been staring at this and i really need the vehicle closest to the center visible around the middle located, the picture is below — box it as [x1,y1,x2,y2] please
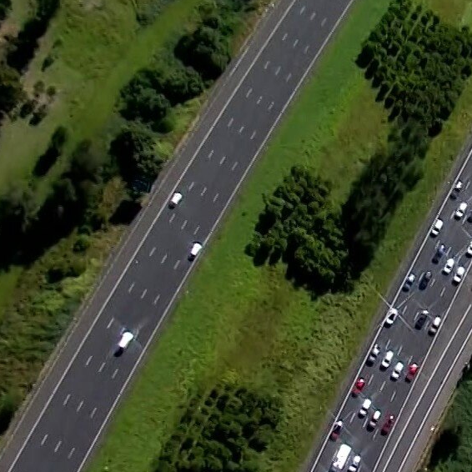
[189,244,201,257]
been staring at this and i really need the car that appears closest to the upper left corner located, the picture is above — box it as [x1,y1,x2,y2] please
[169,192,182,208]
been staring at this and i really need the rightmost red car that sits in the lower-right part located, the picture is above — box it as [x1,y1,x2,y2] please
[405,364,418,380]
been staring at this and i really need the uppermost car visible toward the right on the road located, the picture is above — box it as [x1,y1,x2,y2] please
[450,182,463,198]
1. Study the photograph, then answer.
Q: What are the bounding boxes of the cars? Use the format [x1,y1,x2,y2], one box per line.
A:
[348,455,361,472]
[385,309,398,327]
[442,258,455,275]
[367,347,380,365]
[329,419,344,441]
[169,192,182,208]
[380,351,394,369]
[405,364,418,380]
[358,399,371,417]
[380,416,395,435]
[431,219,443,236]
[415,312,428,330]
[466,240,472,256]
[418,272,432,290]
[402,274,415,292]
[189,244,201,257]
[450,182,463,198]
[351,378,365,396]
[432,246,445,262]
[454,202,468,218]
[428,318,442,334]
[453,266,465,284]
[391,362,404,380]
[368,410,381,429]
